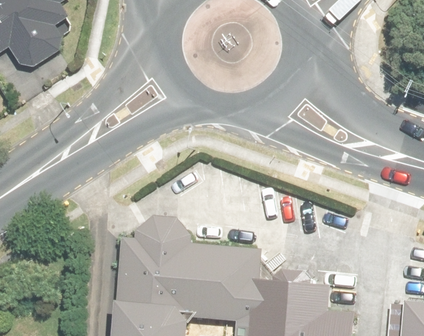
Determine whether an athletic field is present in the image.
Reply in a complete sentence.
No, I can see no athletic field in this picture.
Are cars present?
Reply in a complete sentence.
Yes, a car appears in the view.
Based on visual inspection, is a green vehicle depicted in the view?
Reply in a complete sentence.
No, no green vehicle can be seen from above.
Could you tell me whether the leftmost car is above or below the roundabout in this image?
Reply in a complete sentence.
From this view, the leftmost car can be seen below the roundabout.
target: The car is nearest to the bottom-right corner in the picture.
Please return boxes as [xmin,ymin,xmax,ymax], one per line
[404,281,424,294]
